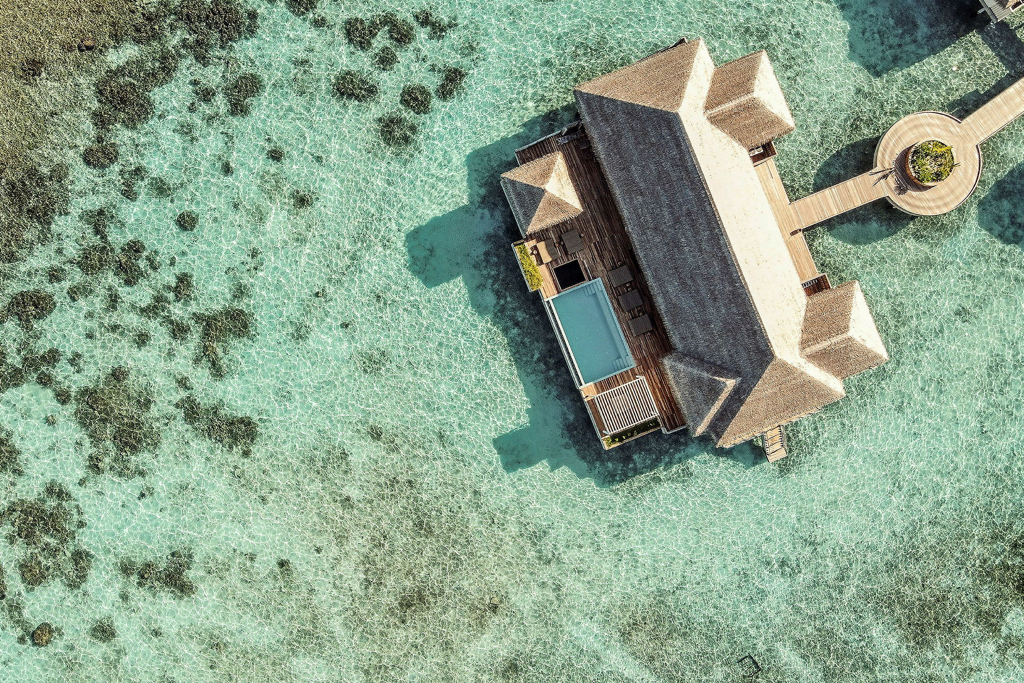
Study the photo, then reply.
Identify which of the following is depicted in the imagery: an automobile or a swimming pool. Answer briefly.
swimming pool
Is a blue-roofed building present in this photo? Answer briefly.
No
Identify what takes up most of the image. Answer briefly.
water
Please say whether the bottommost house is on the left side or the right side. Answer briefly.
right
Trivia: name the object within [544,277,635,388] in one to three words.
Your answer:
swimming pool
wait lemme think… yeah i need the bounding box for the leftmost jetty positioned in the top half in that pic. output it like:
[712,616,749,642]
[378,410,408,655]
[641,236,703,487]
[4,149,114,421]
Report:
[789,166,889,230]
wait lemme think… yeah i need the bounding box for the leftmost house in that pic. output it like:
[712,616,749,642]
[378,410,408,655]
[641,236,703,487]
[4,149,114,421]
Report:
[572,37,888,449]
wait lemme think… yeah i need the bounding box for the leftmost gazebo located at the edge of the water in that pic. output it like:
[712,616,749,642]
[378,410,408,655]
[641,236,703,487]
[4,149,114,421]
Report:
[501,152,584,236]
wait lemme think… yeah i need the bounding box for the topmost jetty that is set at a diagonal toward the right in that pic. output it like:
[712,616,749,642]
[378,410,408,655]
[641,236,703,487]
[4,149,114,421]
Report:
[958,74,1024,147]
